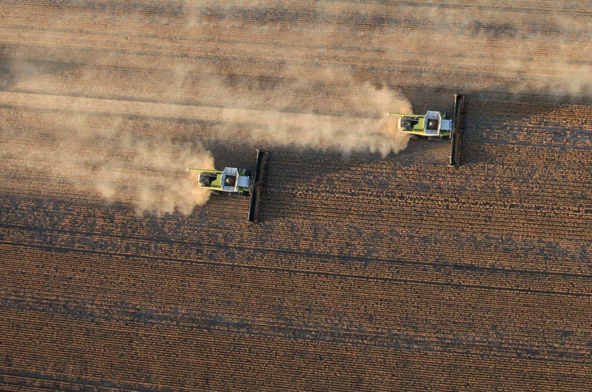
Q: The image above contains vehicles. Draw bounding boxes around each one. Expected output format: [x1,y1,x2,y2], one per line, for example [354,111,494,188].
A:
[386,93,469,166]
[184,149,272,224]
